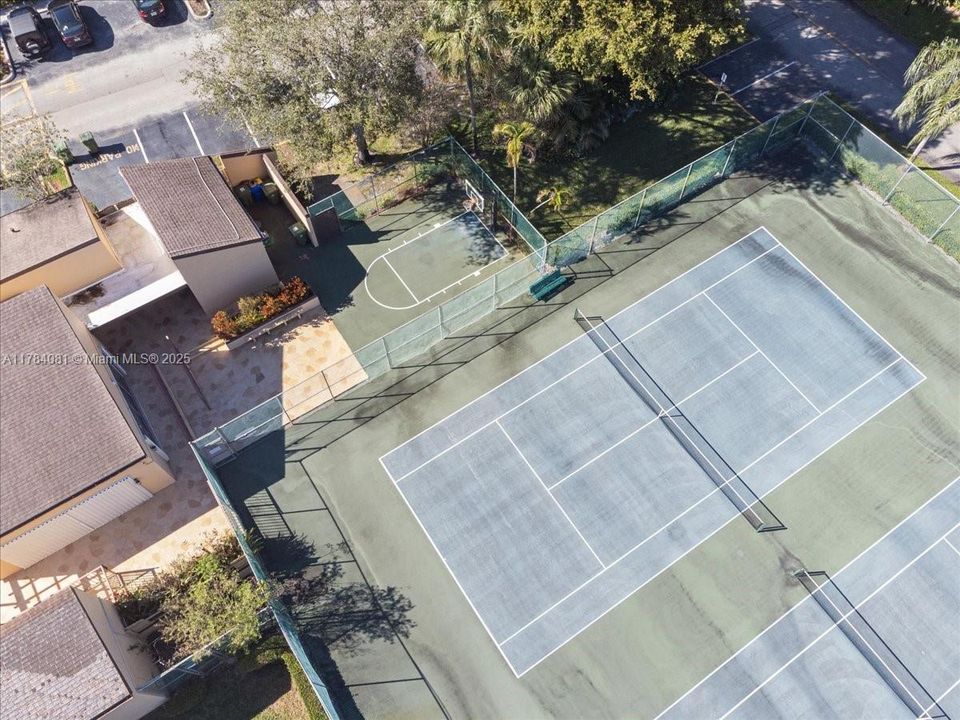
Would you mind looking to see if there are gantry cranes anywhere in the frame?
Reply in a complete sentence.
No, there is no gantry crane in the image.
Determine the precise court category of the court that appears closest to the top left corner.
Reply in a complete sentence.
I'd say the court that appears closest to the top left corner is a basketball court.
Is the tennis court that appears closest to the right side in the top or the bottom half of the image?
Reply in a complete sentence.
It is in the bottom half that the tennis court that appears closest to the right side appears.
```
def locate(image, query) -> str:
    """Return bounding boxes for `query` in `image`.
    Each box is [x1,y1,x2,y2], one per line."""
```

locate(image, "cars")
[4,3,51,54]
[48,0,94,49]
[134,0,169,20]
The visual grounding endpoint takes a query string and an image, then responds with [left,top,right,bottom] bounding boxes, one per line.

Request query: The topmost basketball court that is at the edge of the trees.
[300,180,541,381]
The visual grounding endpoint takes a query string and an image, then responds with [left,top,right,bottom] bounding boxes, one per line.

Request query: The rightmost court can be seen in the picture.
[654,476,960,720]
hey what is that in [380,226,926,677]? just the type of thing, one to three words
tennis court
